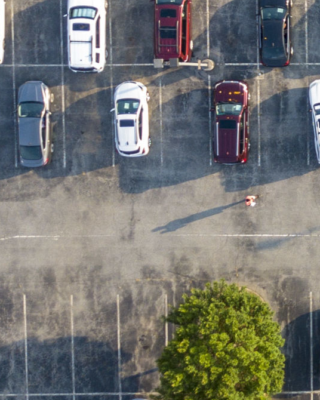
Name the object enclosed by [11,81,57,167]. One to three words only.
car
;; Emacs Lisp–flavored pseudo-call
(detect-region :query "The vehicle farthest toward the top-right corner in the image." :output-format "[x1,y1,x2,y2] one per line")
[254,0,295,66]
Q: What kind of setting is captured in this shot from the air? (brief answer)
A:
parking lot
